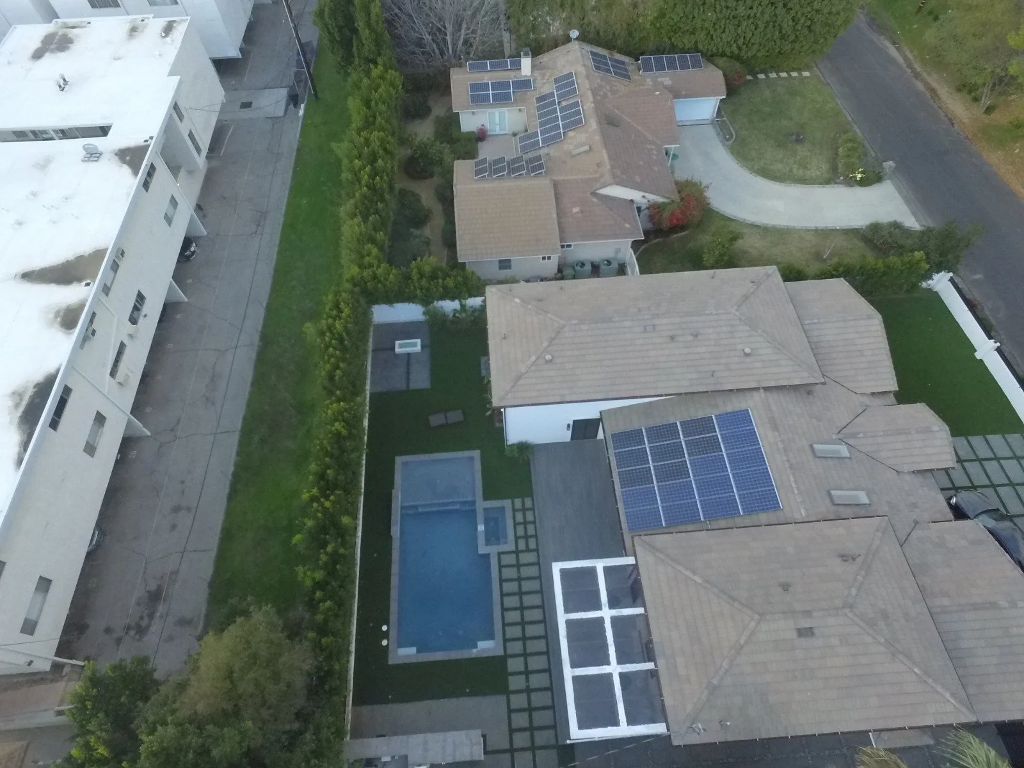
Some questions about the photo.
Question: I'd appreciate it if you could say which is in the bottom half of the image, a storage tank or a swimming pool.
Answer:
swimming pool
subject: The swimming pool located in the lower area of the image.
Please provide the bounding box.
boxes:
[387,449,515,664]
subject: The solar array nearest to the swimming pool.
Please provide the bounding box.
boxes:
[611,410,783,531]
